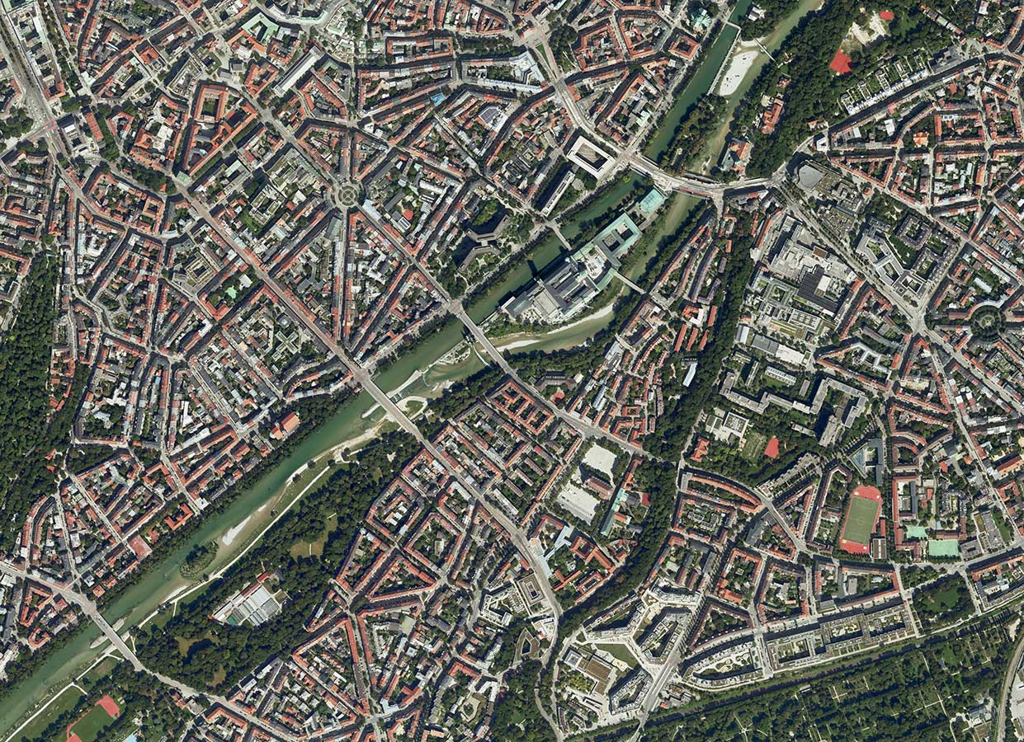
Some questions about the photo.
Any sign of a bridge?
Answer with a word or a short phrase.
Yes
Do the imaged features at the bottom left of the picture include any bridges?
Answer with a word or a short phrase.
Yes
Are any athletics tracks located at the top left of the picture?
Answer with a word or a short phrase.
No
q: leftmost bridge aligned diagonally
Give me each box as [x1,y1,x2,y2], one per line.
[86,606,144,671]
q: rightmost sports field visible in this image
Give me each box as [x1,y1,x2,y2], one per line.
[844,497,879,544]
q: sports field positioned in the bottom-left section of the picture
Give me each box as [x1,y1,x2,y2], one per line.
[67,696,120,742]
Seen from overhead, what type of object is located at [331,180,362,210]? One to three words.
roundabout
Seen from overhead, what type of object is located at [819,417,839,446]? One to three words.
building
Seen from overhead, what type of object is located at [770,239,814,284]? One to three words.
building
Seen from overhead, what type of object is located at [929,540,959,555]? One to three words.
sports court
